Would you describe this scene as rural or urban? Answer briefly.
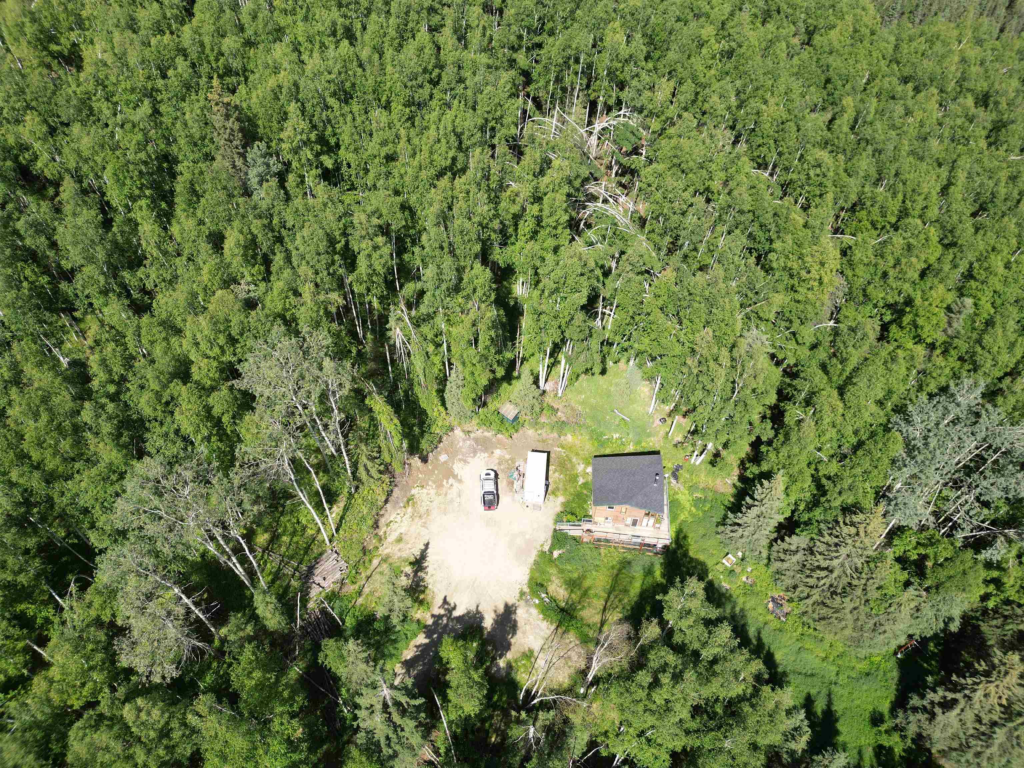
rural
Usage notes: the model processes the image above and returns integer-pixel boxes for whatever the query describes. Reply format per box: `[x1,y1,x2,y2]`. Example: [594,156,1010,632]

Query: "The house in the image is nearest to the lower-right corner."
[592,455,664,529]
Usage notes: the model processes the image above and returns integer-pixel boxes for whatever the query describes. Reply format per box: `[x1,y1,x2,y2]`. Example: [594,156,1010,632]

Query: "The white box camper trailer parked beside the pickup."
[525,452,548,502]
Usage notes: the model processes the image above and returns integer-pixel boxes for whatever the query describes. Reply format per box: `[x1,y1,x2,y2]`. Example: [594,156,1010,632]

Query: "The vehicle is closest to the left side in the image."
[479,469,498,511]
